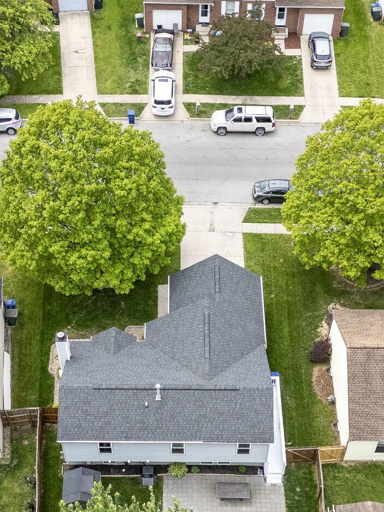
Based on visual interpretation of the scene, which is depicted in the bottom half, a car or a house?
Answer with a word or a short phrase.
house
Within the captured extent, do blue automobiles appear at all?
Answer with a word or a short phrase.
No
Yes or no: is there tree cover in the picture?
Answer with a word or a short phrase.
Yes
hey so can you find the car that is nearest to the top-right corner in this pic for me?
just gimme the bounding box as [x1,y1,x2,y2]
[308,33,334,67]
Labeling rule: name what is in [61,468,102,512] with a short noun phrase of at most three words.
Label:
shed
